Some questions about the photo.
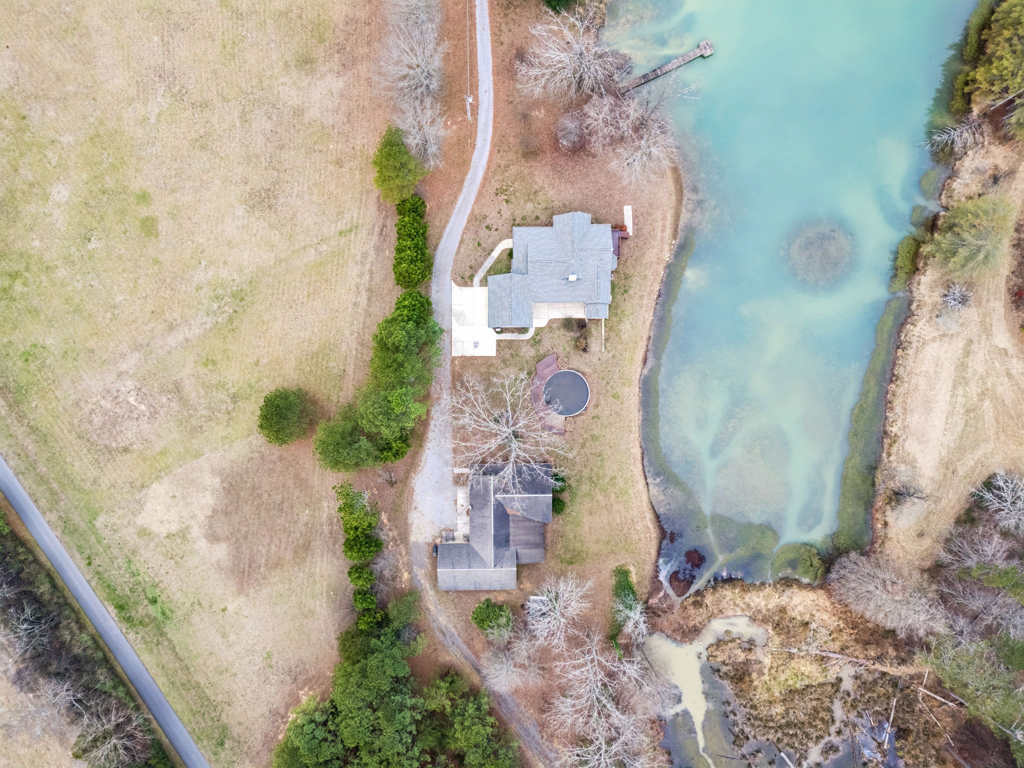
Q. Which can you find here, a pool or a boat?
pool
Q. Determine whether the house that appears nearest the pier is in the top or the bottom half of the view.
top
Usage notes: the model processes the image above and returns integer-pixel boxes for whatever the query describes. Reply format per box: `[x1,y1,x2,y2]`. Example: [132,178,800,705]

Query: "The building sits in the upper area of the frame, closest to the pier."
[488,209,617,328]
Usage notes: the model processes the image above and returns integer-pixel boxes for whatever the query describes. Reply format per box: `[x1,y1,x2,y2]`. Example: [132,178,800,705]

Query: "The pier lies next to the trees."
[617,36,716,97]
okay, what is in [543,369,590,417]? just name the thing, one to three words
swimming pool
